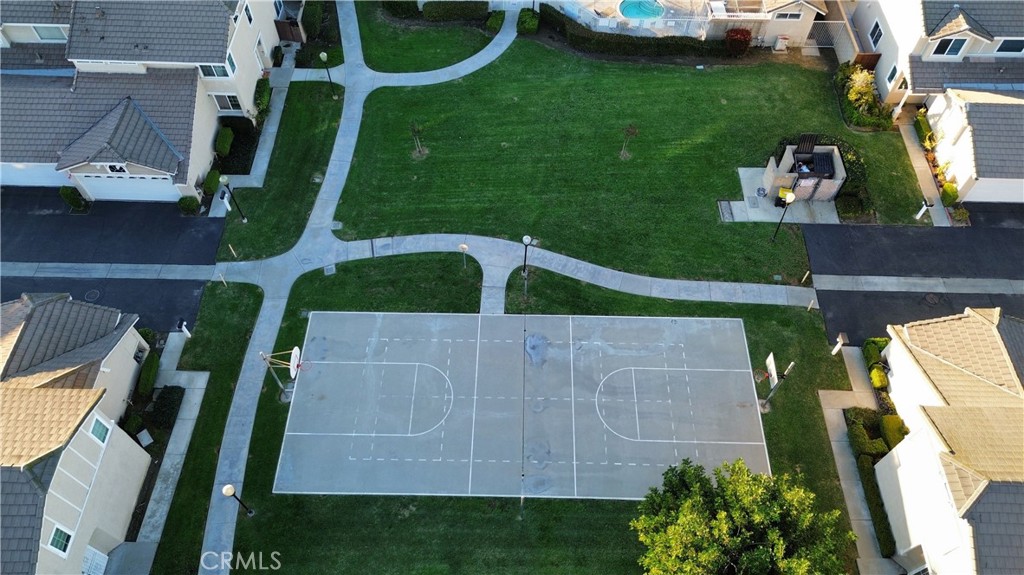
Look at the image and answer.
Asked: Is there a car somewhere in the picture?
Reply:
No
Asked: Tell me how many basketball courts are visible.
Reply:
1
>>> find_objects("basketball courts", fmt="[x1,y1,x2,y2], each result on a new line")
[272,311,773,503]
